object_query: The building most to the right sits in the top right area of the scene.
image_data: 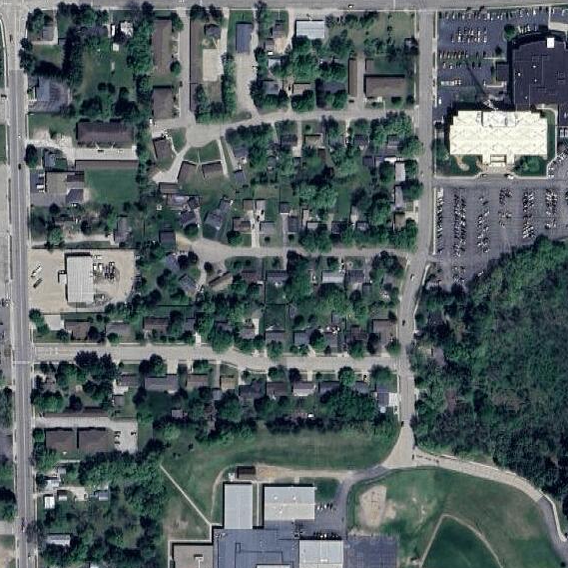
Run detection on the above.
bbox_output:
[513,38,568,123]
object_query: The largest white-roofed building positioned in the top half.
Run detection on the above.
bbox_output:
[451,111,548,157]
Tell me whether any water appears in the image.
No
